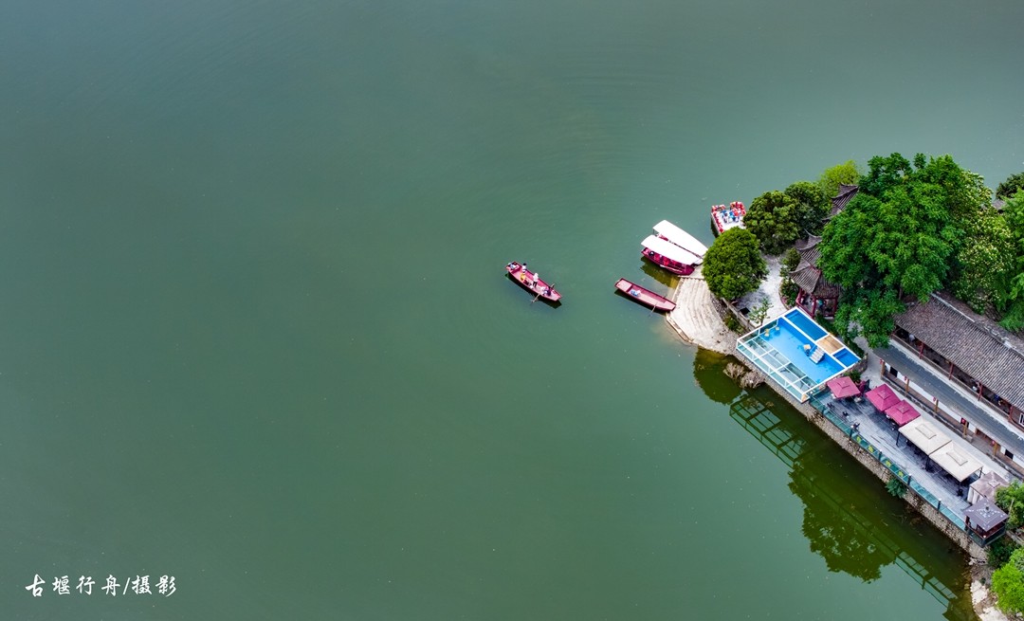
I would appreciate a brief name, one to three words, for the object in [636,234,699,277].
boat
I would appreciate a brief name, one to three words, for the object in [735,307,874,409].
swimming pool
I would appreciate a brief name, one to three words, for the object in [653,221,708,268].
boat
